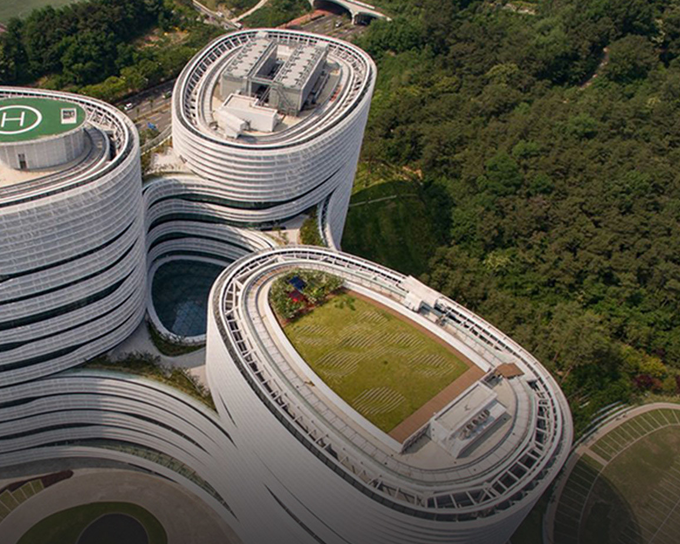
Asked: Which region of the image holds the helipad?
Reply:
top left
